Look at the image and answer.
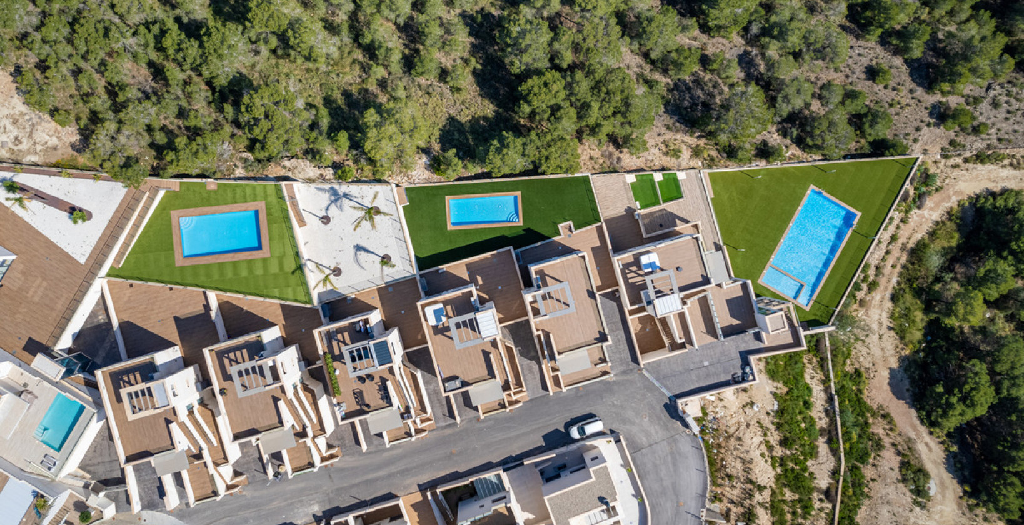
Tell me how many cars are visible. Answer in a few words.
1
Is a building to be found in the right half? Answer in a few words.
Yes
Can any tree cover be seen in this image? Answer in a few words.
Yes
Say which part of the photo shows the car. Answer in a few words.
bottom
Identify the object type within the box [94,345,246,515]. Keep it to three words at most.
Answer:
house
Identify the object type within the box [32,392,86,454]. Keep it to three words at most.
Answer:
swimming pool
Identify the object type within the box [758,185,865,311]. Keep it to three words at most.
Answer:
swimming pool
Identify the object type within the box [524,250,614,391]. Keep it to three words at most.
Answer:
house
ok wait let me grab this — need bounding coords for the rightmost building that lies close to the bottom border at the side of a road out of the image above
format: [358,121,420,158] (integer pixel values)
[522,447,620,525]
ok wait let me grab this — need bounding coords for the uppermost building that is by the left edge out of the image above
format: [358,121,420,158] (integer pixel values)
[0,244,28,289]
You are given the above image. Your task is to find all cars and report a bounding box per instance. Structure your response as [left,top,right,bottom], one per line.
[568,418,605,440]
